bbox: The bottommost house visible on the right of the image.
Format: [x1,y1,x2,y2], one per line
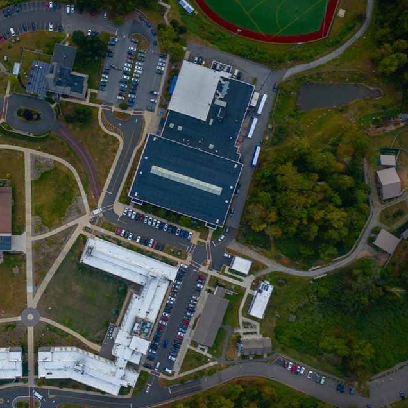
[238,337,274,359]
